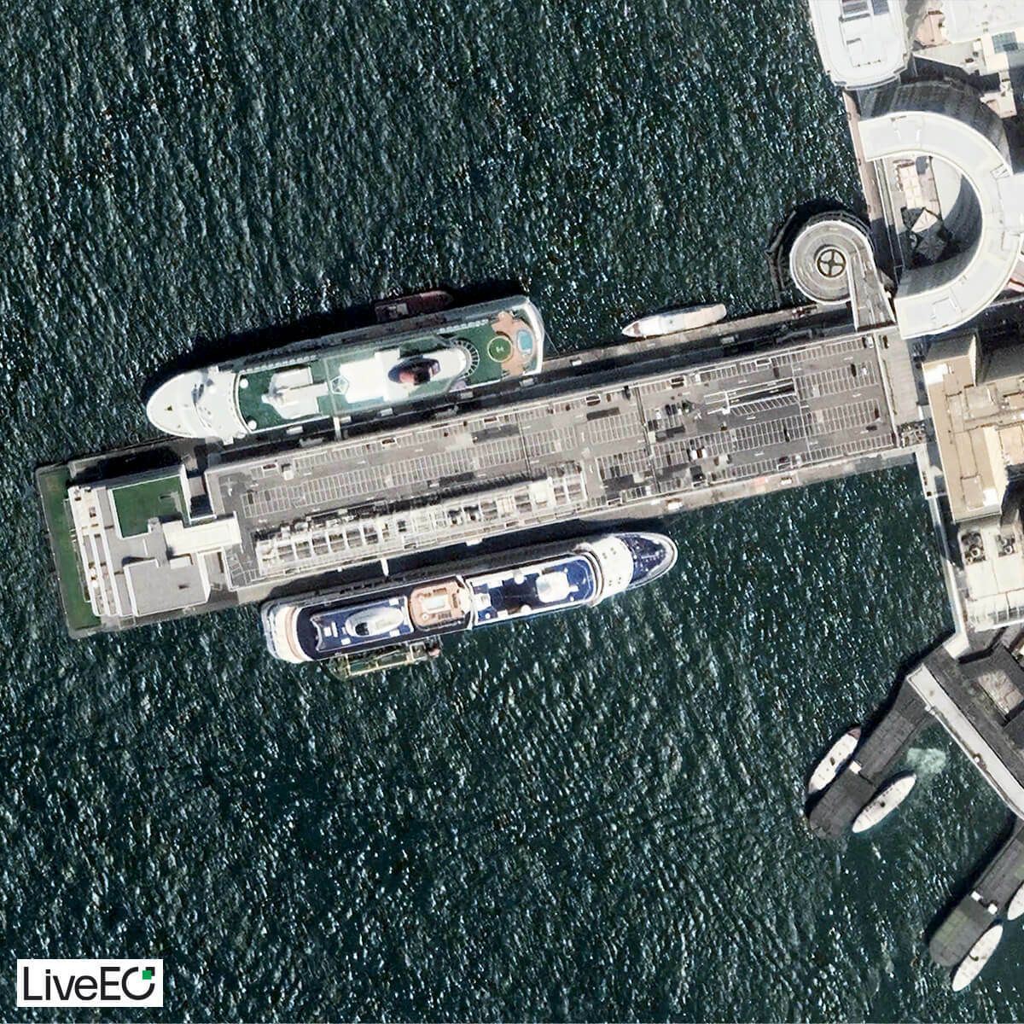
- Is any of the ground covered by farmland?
No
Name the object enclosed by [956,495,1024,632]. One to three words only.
building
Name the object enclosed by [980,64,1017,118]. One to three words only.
house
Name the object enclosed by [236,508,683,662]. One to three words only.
ship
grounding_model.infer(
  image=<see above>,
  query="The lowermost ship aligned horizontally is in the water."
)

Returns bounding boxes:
[329,634,441,680]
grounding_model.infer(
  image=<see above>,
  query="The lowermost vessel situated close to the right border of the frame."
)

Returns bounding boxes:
[953,924,1002,988]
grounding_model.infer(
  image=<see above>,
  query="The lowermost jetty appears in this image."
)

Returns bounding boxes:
[929,812,1024,968]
